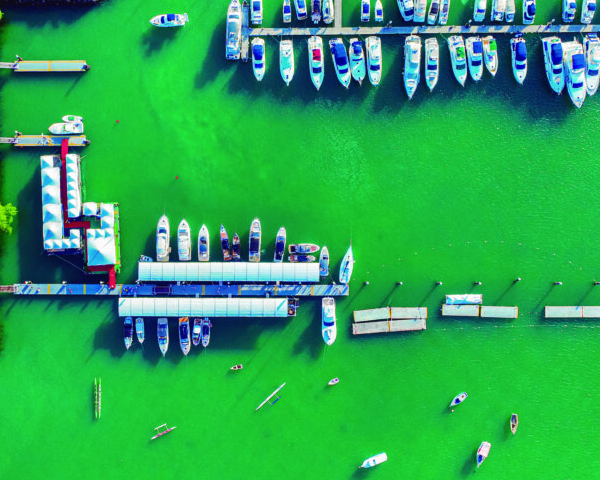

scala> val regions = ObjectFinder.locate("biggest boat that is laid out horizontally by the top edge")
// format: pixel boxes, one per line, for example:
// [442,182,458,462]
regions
[149,13,189,26]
